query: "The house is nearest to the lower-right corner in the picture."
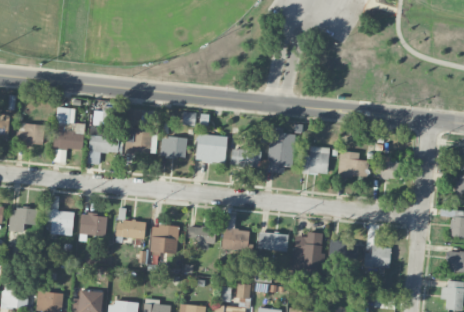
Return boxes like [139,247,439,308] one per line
[442,280,464,312]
